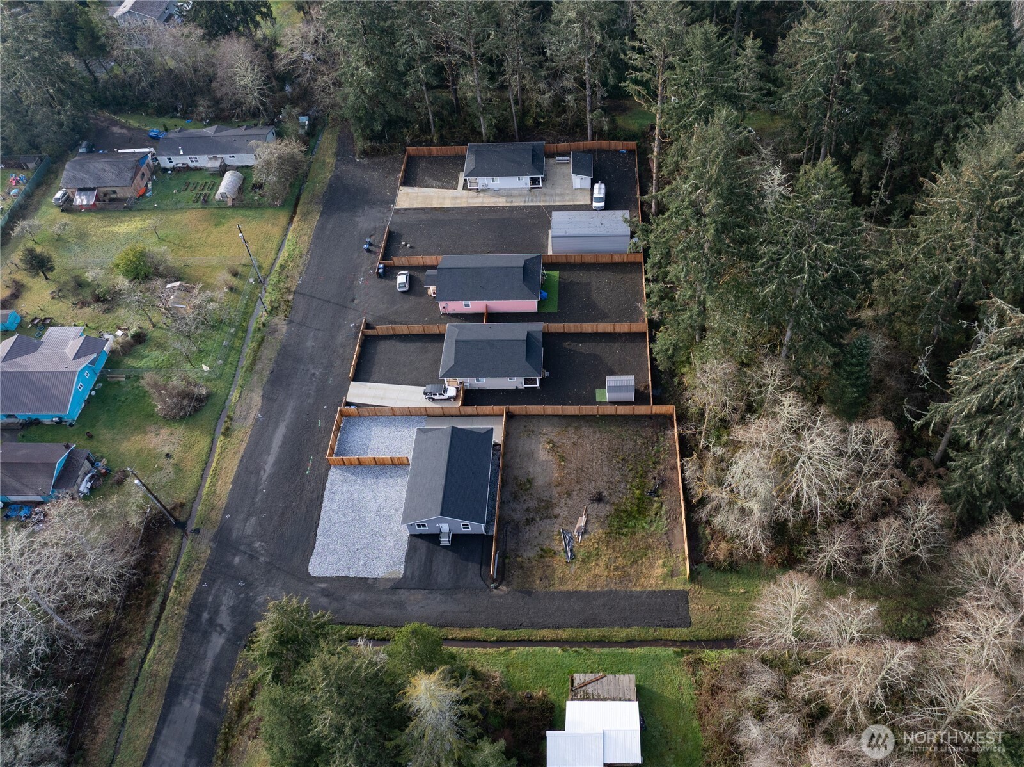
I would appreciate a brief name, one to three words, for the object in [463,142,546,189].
house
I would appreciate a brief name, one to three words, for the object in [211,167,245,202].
greenhouse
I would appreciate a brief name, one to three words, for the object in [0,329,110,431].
house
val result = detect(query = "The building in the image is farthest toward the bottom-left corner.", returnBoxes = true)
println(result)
[0,443,102,501]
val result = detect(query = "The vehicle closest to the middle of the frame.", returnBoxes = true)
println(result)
[395,271,408,292]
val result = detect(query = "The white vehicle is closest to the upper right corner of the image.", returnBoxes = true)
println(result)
[592,176,606,208]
